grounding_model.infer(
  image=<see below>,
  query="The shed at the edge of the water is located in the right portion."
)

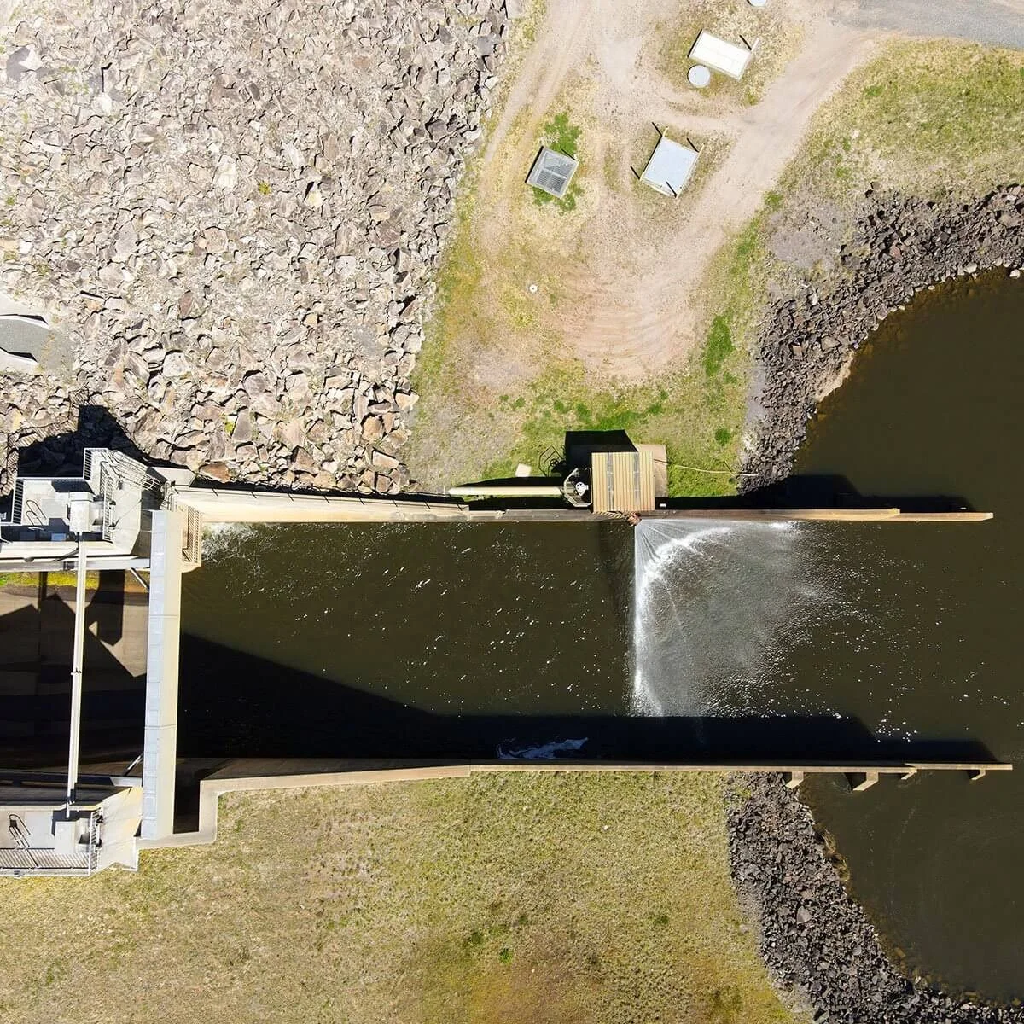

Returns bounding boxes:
[590,452,655,512]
